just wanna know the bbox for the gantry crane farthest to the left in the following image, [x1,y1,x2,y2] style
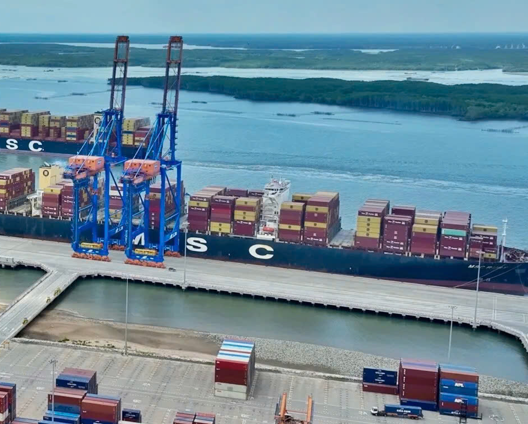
[62,31,131,262]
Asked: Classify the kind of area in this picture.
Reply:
port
